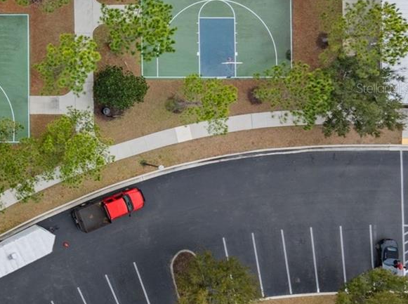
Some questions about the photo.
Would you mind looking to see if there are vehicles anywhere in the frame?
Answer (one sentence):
Yes, a vehicle appears in the view.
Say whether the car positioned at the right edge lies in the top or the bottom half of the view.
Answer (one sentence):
Seen from above, the car positioned at the right edge lies in the bottom half of the view.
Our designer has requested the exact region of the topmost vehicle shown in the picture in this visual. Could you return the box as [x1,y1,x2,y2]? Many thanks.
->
[72,190,144,234]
